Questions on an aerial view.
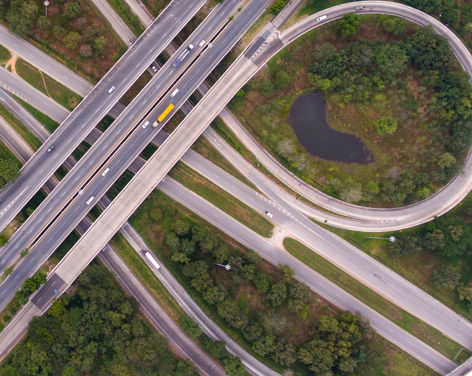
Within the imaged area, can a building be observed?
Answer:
No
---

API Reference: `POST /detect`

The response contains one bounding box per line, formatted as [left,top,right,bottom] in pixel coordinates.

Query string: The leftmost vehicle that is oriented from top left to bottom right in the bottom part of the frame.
[144,251,161,270]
